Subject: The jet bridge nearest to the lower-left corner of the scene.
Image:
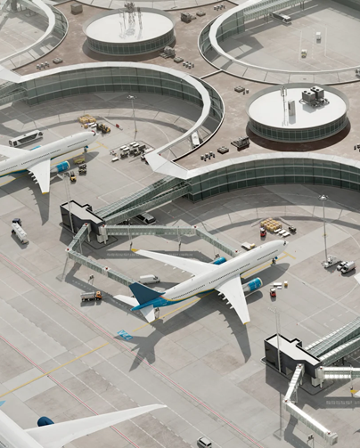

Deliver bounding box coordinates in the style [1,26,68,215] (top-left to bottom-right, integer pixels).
[63,223,157,292]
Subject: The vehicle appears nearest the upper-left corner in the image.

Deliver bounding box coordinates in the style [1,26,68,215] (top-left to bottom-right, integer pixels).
[9,126,43,144]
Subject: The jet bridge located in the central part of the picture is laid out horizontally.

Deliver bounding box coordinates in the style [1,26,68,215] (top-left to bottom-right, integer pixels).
[104,220,244,257]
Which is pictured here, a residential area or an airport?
airport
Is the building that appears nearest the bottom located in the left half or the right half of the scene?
right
